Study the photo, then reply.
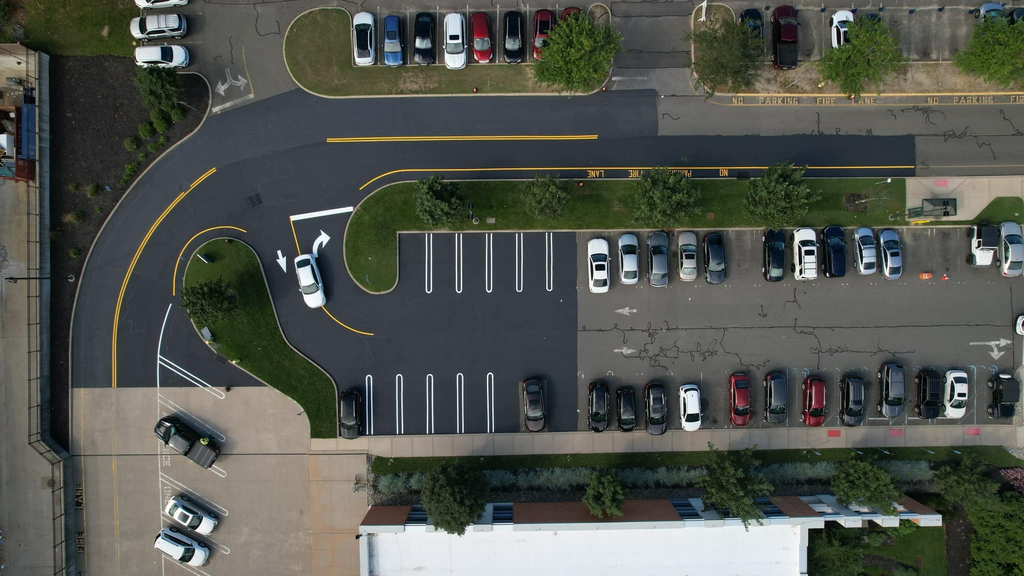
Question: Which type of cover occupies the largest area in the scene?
paved ground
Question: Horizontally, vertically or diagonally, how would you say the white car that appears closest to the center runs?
vertically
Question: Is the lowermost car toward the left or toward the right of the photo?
left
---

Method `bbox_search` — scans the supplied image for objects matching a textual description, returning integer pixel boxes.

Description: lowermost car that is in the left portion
[153,523,212,567]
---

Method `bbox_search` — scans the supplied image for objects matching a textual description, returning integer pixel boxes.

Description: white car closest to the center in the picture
[587,238,612,293]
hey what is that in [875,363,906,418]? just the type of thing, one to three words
car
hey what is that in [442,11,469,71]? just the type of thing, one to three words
car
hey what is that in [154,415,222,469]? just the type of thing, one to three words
truck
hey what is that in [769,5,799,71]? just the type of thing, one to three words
truck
